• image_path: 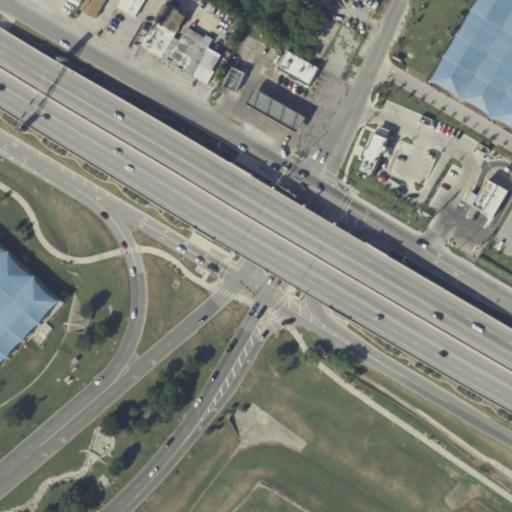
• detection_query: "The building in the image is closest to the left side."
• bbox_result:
[0,244,59,363]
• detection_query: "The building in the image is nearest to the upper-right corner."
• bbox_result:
[428,0,512,130]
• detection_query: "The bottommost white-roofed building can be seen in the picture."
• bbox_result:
[474,180,508,217]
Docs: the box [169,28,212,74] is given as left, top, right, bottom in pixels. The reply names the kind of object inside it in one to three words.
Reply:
building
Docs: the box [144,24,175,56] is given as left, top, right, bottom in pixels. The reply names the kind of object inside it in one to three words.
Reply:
building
